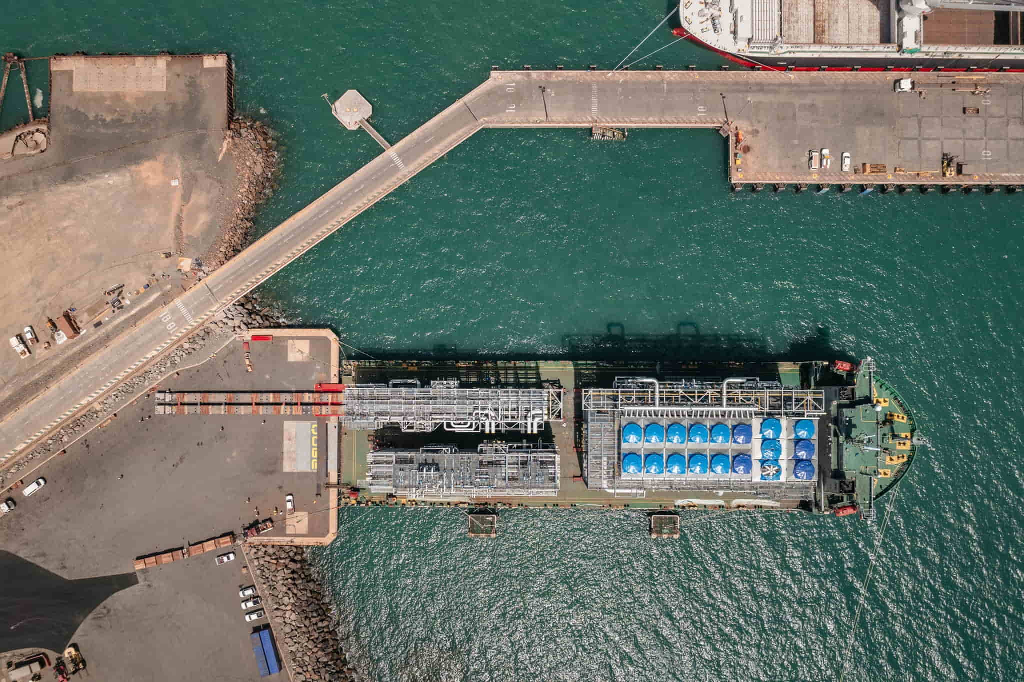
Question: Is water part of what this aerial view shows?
Yes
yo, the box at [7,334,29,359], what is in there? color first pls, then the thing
white truck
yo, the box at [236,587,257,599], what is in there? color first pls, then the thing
white vehicle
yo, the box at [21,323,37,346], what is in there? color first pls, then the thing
white vehicle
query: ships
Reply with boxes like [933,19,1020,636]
[672,0,1024,68]
[342,356,930,524]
